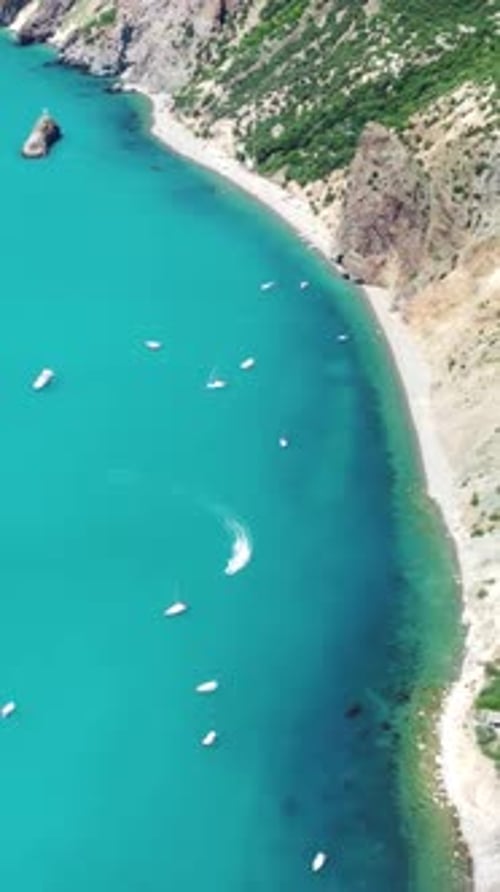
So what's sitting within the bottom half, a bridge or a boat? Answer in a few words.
boat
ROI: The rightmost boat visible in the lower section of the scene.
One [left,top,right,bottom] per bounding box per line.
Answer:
[310,850,326,871]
